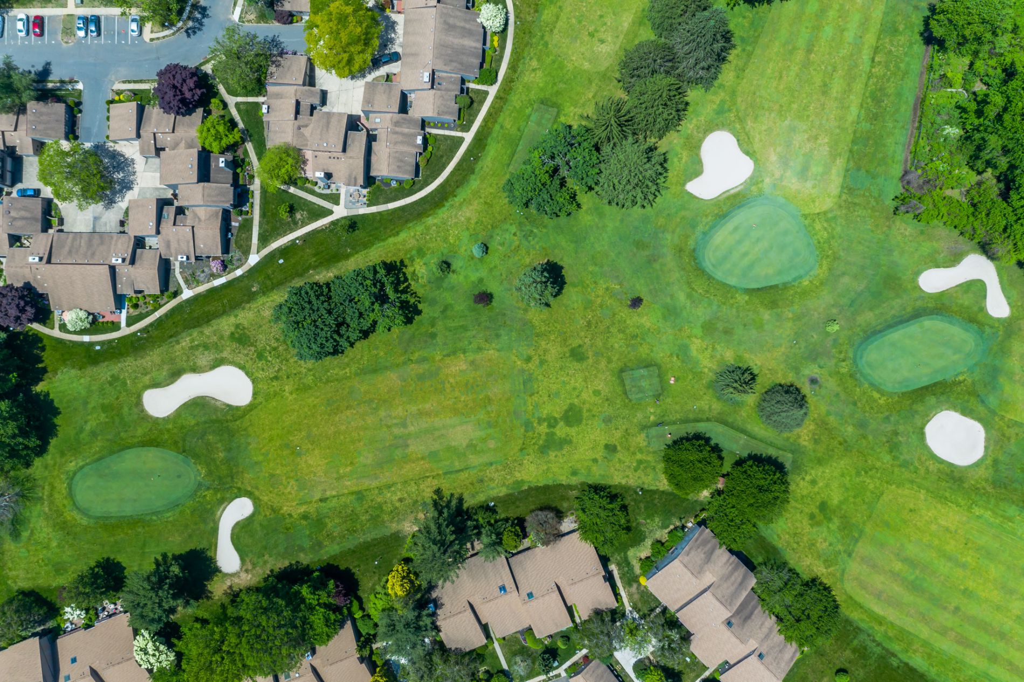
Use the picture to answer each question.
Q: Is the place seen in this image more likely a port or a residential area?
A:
residential area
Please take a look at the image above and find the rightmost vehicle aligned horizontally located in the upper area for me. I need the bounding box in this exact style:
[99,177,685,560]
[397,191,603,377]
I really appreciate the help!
[371,52,402,68]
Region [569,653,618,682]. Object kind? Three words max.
house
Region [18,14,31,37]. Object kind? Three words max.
vehicle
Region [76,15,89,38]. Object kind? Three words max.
vehicle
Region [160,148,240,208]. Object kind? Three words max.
house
